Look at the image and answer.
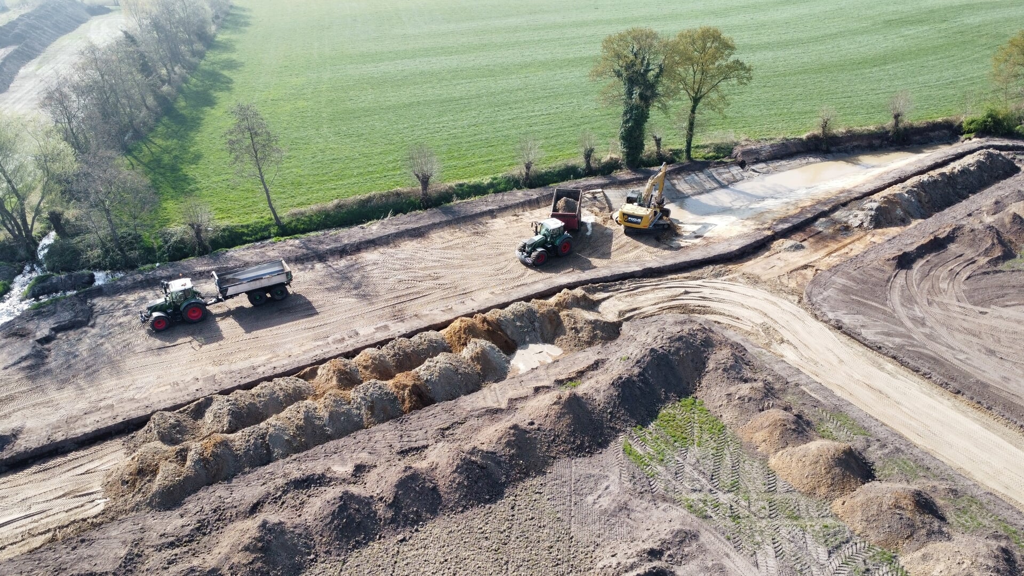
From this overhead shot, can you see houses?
No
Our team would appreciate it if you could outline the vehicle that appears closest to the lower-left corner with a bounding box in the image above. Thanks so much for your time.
[139,275,208,332]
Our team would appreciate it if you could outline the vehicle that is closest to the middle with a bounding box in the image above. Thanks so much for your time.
[518,214,575,266]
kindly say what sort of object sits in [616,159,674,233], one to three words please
work vehicle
